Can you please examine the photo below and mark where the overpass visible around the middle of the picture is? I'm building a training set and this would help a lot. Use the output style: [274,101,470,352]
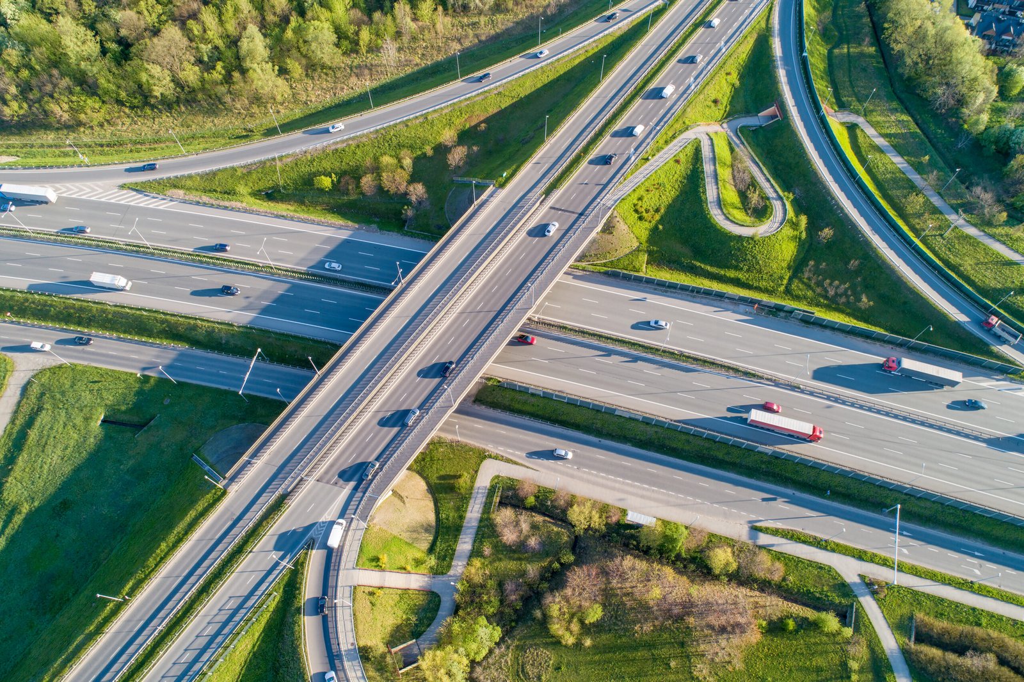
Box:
[221,160,620,538]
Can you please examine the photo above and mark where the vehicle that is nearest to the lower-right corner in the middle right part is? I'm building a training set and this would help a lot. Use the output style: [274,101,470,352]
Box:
[965,399,985,411]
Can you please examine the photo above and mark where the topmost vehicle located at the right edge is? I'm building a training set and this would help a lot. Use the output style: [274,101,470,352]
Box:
[988,315,1024,348]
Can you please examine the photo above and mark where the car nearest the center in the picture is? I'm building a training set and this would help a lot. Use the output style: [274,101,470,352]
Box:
[518,334,538,346]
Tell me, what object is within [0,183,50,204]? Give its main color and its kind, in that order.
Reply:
white truck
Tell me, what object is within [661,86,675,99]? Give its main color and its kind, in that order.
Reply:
white vehicle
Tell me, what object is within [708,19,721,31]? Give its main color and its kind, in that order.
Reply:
white vehicle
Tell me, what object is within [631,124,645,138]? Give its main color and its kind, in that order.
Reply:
white car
